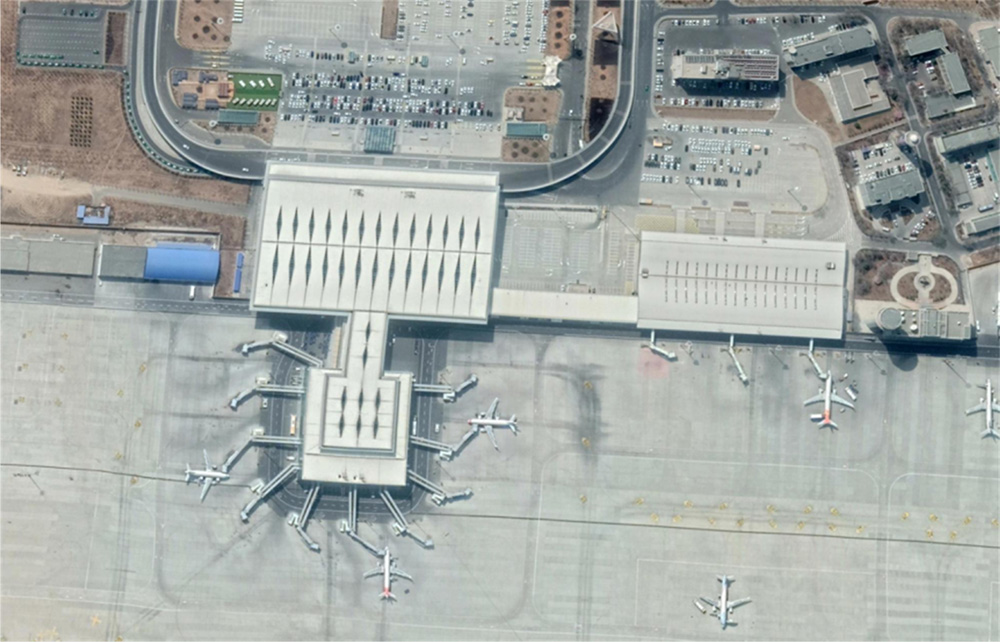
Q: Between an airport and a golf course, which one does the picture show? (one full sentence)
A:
It's an airport.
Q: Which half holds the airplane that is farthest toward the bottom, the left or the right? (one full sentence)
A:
The airplane that is farthest toward the bottom appears in the right half of the scene.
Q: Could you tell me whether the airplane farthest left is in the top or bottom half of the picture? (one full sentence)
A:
The airplane farthest left is in the bottom half of the image.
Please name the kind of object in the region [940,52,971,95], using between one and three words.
building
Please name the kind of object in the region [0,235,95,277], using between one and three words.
hangar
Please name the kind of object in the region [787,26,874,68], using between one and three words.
building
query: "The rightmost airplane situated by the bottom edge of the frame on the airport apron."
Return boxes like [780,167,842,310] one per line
[699,575,750,630]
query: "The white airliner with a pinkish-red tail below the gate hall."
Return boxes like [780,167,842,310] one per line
[362,547,412,600]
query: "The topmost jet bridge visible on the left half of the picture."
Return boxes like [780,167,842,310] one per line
[241,331,326,368]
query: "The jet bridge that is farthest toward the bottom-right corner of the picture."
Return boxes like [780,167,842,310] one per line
[807,338,827,381]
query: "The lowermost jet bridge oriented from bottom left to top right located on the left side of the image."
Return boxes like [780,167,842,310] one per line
[238,461,300,523]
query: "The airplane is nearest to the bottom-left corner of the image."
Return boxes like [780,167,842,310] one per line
[184,448,230,498]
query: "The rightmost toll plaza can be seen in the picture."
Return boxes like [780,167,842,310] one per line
[542,55,562,86]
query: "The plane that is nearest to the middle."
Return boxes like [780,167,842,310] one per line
[468,398,521,448]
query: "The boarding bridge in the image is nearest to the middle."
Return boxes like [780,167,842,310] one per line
[411,374,479,404]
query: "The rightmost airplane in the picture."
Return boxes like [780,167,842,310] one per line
[965,380,1000,437]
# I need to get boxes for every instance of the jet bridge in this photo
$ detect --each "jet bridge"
[807,338,827,381]
[229,375,305,408]
[406,468,474,506]
[286,484,322,551]
[238,461,300,523]
[338,486,385,557]
[727,333,748,384]
[241,331,326,368]
[648,329,677,360]
[411,374,479,404]
[378,487,435,547]
[408,423,479,462]
[221,426,302,474]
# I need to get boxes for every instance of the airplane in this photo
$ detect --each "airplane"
[468,398,521,448]
[804,371,854,428]
[184,448,230,498]
[965,380,1000,437]
[699,575,750,630]
[362,547,412,600]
